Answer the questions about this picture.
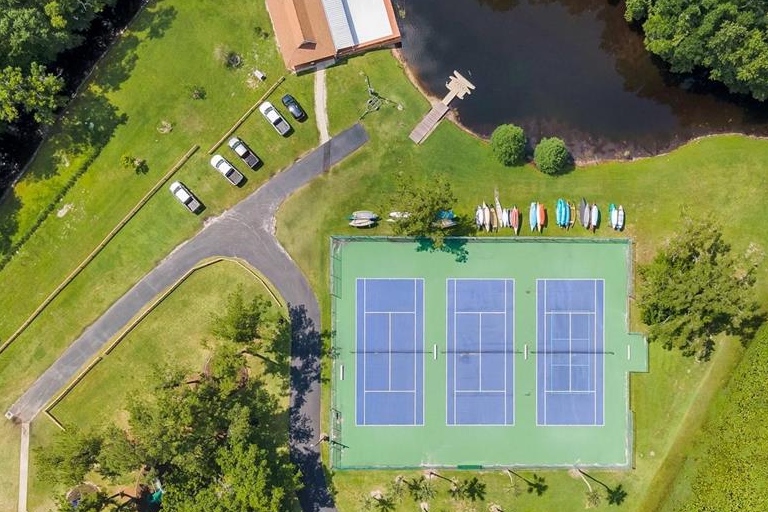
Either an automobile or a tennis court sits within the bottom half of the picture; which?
tennis court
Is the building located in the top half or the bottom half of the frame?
top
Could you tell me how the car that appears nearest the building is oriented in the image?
diagonally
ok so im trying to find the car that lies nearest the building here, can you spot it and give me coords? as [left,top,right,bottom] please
[282,93,306,121]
